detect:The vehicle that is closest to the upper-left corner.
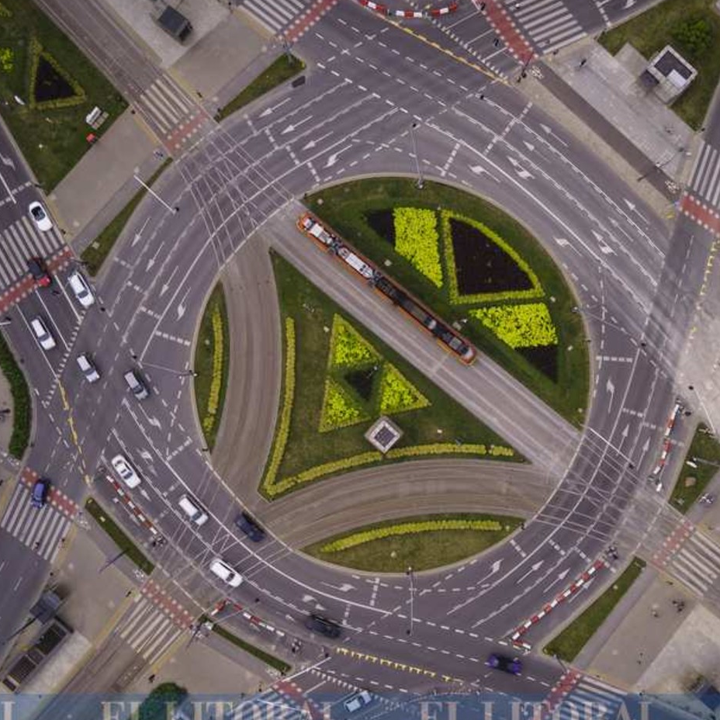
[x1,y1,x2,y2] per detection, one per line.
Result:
[26,197,52,234]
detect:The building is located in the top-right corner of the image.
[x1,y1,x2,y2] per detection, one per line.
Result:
[637,45,699,108]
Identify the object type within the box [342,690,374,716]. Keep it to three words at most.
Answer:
car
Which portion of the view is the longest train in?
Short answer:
center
